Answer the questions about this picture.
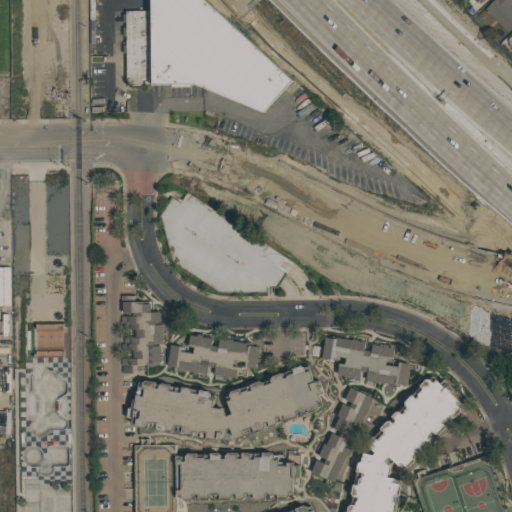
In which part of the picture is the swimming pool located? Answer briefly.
bottom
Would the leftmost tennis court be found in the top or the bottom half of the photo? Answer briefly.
bottom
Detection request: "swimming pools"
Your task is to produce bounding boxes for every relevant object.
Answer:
[285,417,314,444]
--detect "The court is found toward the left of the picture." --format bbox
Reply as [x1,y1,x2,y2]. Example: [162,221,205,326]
[134,440,177,512]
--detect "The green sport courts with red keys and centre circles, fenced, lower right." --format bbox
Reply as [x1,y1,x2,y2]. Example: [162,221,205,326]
[418,460,506,512]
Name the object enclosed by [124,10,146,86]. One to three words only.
building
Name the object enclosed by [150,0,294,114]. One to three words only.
warehouse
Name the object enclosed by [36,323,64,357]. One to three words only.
building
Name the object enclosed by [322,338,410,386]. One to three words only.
house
